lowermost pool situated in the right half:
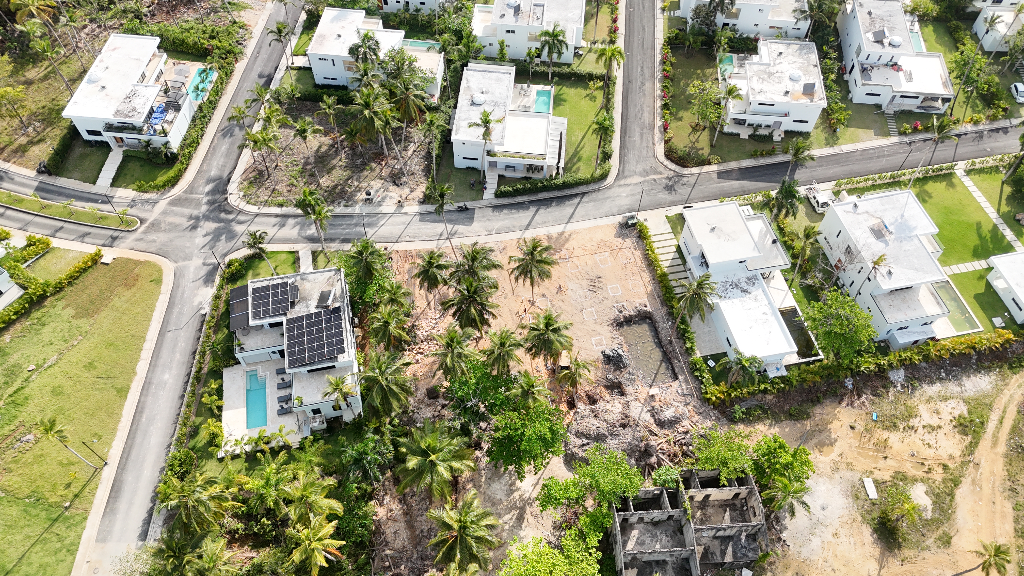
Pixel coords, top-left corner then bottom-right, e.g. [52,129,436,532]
[778,304,822,361]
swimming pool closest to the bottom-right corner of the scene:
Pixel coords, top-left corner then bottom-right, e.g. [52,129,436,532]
[936,264,980,334]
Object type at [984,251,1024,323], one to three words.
building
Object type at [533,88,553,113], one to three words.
swimming pool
